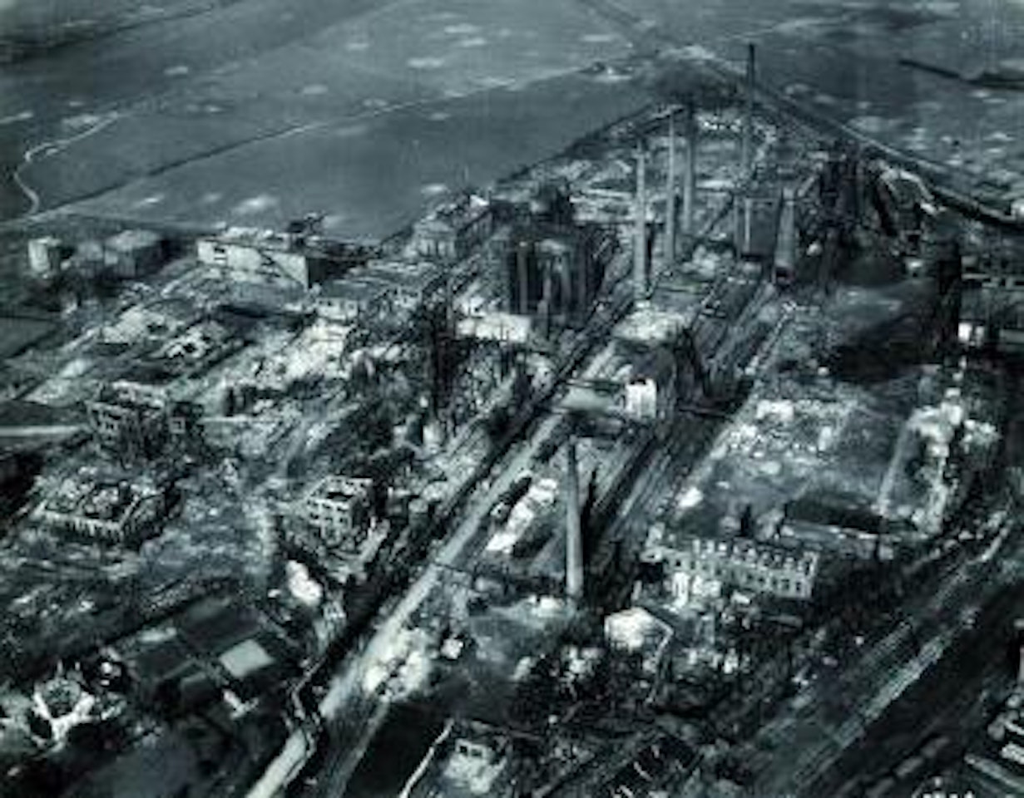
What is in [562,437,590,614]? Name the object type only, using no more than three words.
chimney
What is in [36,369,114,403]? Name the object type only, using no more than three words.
building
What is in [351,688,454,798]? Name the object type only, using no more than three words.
shed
